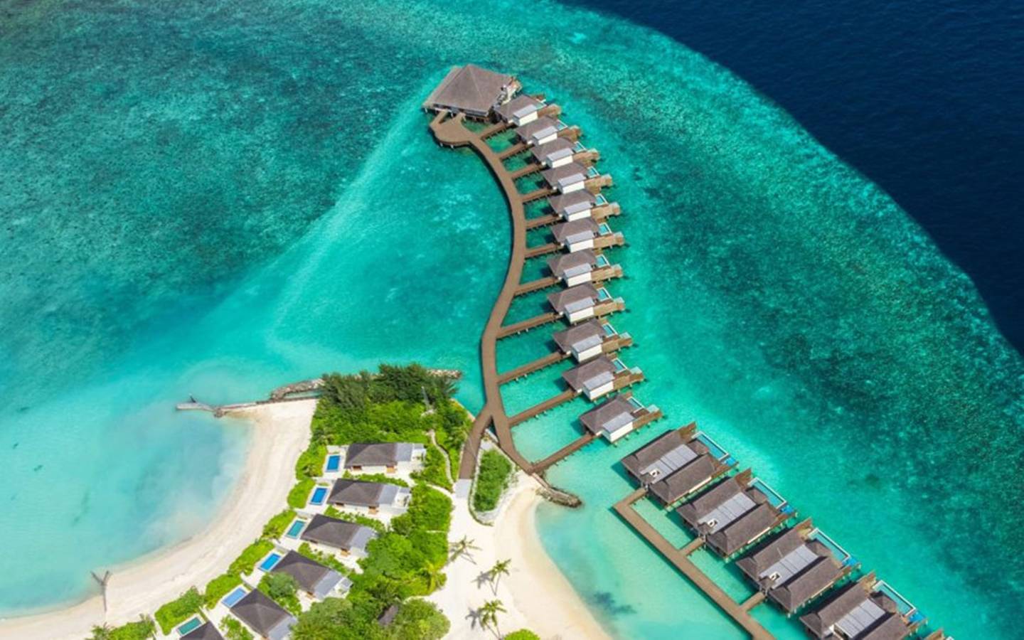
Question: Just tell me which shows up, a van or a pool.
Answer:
pool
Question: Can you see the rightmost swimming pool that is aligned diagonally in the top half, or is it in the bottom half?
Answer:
bottom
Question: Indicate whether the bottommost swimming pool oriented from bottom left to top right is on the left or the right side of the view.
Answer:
left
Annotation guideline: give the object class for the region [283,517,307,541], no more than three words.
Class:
swimming pool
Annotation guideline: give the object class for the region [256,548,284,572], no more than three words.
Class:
swimming pool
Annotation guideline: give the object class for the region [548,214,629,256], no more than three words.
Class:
house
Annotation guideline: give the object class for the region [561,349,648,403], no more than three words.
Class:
house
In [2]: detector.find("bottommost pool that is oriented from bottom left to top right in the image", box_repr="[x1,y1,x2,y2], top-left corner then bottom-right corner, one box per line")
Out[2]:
[172,614,202,638]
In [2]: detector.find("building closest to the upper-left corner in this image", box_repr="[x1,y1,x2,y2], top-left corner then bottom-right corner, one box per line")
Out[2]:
[422,69,523,127]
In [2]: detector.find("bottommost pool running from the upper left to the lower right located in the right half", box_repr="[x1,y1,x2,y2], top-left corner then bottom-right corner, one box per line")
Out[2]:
[872,580,917,617]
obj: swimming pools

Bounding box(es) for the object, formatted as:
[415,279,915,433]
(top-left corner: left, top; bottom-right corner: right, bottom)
[610,358,628,375]
[172,614,202,638]
[283,517,307,541]
[600,322,618,338]
[594,253,610,268]
[572,140,586,153]
[256,548,284,572]
[324,452,342,472]
[747,477,788,511]
[691,431,731,463]
[585,165,599,178]
[536,97,550,110]
[872,580,917,617]
[625,396,644,411]
[808,528,851,563]
[595,221,611,235]
[594,286,611,302]
[308,485,328,507]
[220,584,250,609]
[555,118,570,131]
[592,193,607,207]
